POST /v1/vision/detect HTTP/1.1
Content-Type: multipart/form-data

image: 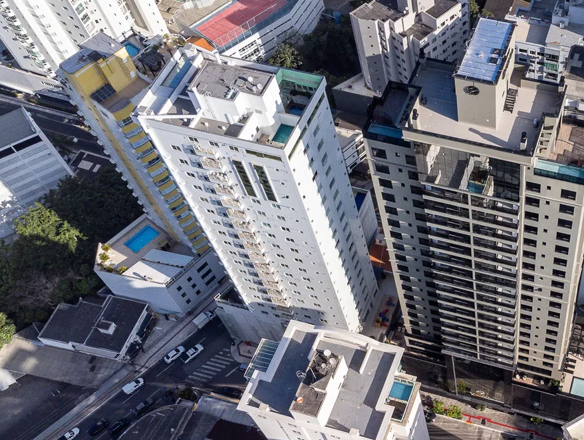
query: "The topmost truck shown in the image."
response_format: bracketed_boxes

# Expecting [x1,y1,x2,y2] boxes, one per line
[187,307,217,331]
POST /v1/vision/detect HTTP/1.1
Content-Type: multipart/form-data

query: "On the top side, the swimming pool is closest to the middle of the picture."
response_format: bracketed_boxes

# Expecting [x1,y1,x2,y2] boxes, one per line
[270,124,297,145]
